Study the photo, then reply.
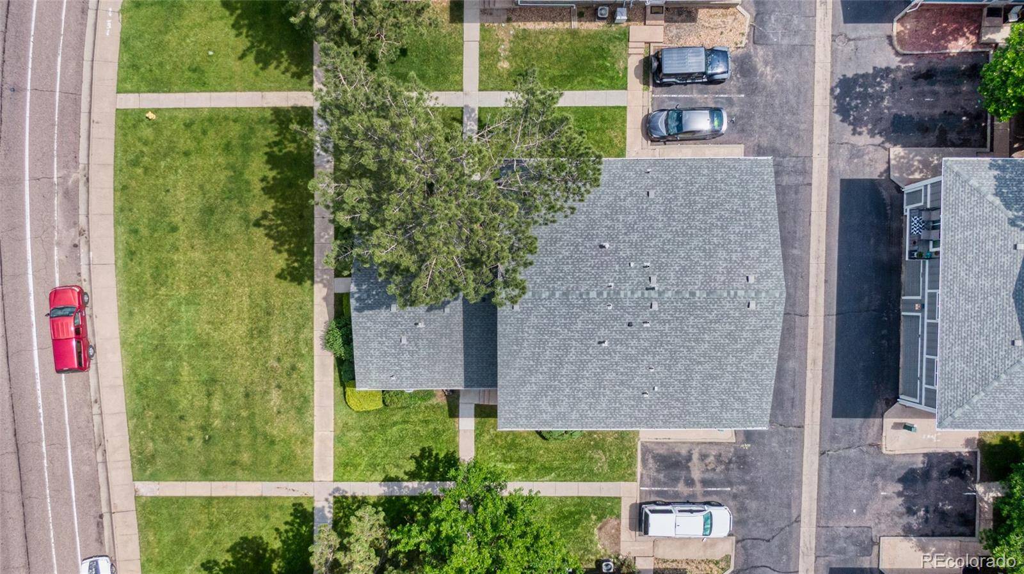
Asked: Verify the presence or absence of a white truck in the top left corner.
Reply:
No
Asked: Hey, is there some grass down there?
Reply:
Yes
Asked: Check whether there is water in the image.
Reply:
No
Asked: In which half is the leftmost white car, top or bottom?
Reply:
bottom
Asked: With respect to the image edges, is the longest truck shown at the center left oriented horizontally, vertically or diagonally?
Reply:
vertically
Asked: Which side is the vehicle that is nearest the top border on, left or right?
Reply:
right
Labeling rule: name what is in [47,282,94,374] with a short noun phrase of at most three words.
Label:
truck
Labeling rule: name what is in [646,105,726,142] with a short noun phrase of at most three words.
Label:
car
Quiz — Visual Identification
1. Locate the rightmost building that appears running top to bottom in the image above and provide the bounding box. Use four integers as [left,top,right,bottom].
[897,156,1024,431]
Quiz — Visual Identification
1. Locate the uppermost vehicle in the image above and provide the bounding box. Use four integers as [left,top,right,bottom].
[650,47,729,84]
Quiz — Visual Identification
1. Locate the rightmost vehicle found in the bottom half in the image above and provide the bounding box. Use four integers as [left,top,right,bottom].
[636,501,731,540]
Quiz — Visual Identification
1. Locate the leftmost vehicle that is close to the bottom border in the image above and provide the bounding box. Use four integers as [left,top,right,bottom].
[83,552,117,574]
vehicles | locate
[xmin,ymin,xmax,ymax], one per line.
[83,552,117,574]
[636,501,731,540]
[646,105,726,142]
[47,282,94,374]
[650,47,729,84]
